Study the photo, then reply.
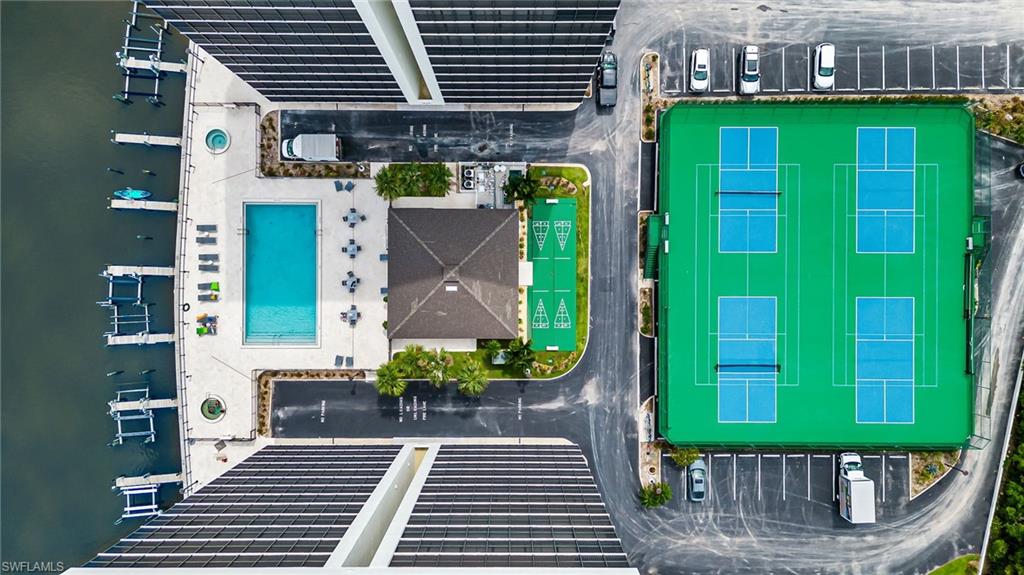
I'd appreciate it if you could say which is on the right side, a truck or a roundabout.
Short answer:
truck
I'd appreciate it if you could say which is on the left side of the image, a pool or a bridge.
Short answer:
pool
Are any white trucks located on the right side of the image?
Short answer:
Yes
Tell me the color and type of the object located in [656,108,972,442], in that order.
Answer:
green sports court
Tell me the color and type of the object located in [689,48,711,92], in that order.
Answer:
white car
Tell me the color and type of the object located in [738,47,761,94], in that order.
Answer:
white car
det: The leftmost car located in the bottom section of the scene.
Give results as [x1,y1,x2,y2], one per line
[687,457,709,502]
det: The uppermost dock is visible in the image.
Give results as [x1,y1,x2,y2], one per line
[126,58,188,76]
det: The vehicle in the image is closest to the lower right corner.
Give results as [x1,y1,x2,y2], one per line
[839,451,875,524]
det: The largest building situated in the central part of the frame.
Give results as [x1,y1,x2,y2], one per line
[387,207,532,339]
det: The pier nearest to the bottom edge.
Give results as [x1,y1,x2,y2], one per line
[116,470,183,490]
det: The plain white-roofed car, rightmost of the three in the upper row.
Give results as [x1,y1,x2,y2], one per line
[812,45,836,91]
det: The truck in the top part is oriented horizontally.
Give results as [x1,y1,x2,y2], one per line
[282,134,345,162]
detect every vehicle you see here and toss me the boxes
[597,52,619,107]
[689,48,711,92]
[839,451,875,524]
[738,47,761,94]
[687,457,709,502]
[603,23,613,47]
[282,134,345,162]
[812,45,836,91]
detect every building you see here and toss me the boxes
[142,0,621,105]
[387,207,532,339]
[64,444,641,575]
